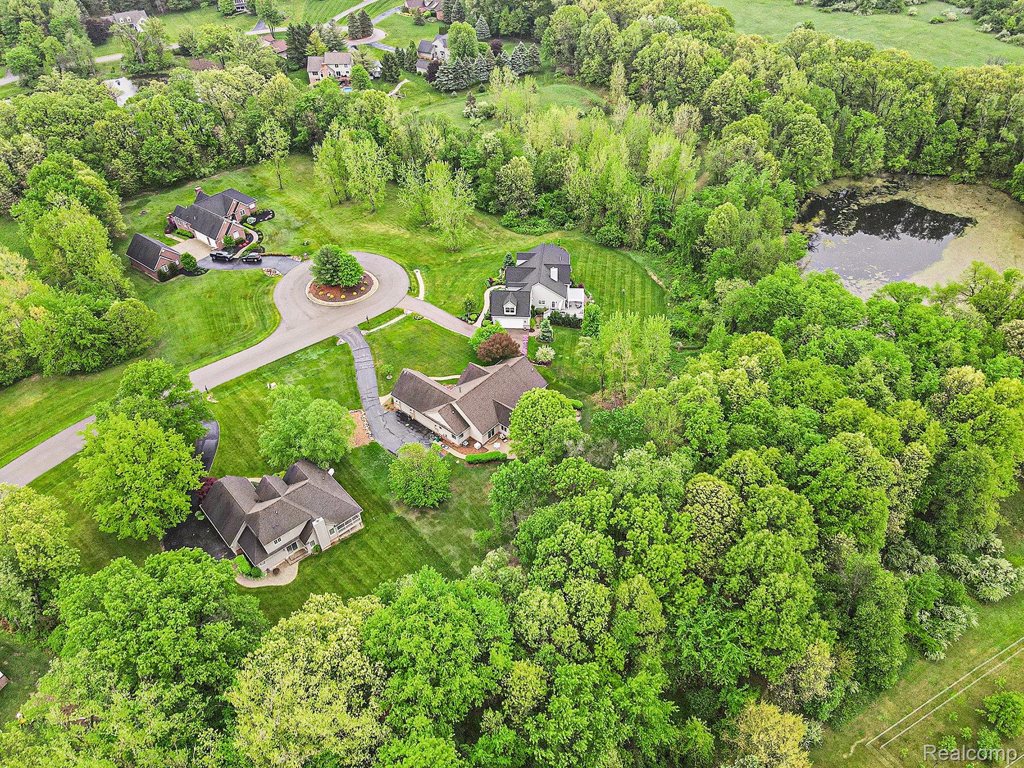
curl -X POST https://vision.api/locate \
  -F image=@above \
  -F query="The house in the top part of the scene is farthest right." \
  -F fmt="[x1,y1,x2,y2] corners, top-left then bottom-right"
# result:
[490,244,585,326]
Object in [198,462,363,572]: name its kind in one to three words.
house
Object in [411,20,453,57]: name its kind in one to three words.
house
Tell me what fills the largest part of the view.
trees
